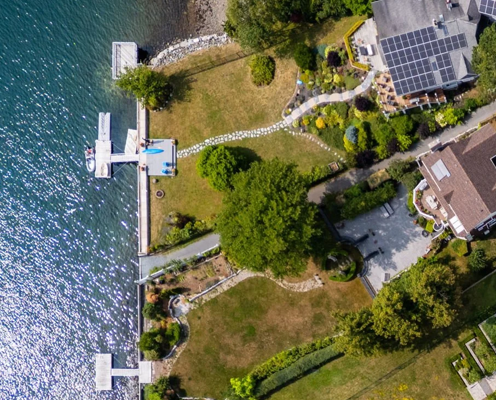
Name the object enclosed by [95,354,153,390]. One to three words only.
pier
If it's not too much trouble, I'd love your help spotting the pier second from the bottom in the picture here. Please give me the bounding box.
[95,113,138,178]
